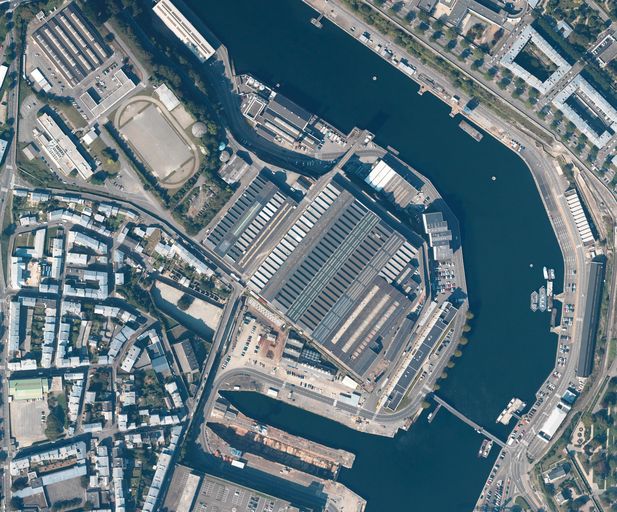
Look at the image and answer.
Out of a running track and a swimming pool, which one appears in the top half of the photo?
running track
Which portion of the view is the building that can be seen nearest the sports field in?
top left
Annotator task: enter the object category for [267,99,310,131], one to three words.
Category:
shed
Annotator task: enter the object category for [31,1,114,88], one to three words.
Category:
building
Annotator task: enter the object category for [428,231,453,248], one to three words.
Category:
building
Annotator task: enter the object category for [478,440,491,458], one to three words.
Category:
ship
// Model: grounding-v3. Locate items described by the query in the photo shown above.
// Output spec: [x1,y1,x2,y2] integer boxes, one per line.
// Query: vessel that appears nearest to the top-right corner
[460,120,483,142]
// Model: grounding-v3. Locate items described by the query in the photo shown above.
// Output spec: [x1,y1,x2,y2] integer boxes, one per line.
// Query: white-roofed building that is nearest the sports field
[154,83,180,111]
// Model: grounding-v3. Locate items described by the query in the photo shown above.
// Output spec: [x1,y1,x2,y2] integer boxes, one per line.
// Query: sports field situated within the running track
[121,103,194,181]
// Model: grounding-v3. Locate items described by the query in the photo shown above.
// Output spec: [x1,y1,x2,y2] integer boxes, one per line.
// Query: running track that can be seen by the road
[112,92,202,191]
